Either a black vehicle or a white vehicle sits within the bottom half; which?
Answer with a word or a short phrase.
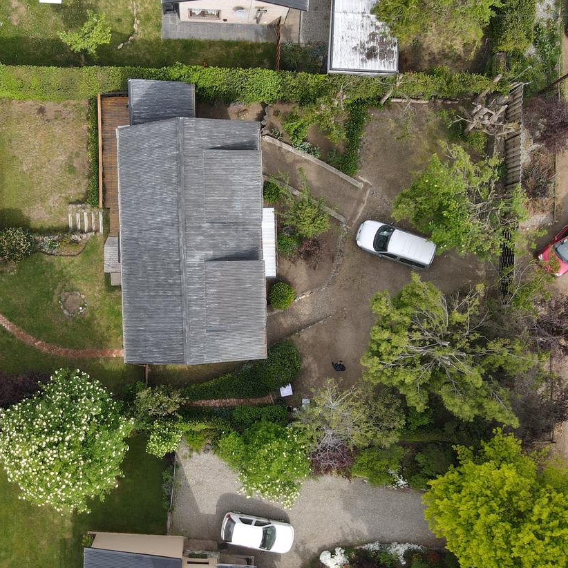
white vehicle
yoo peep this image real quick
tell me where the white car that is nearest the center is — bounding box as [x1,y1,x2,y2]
[353,220,438,270]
